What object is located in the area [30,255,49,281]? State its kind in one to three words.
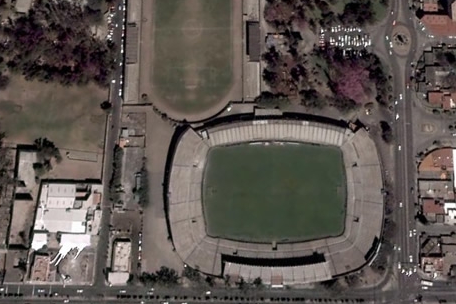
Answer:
building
